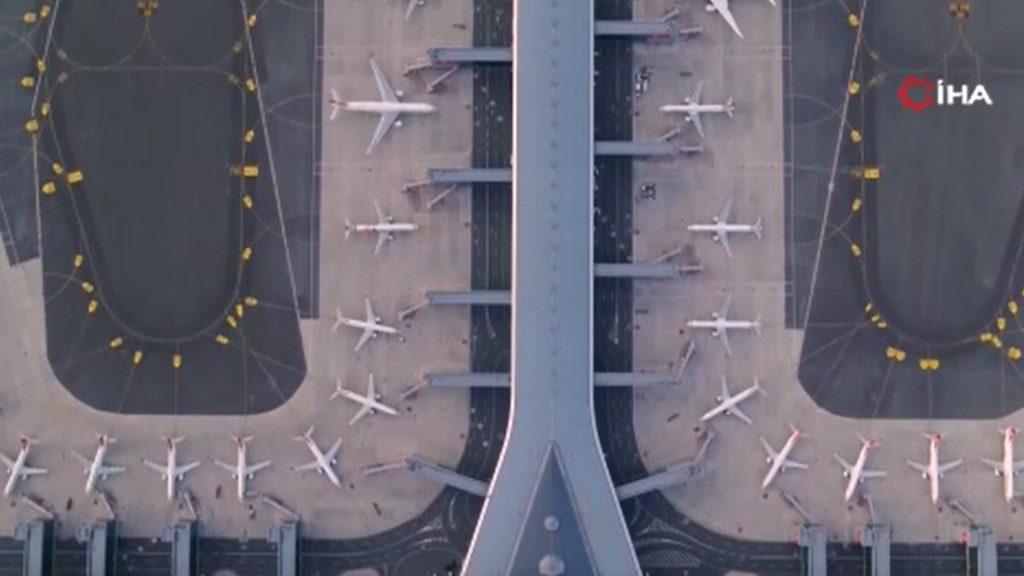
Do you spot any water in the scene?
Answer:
No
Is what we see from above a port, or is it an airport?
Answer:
airport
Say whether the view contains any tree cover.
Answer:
No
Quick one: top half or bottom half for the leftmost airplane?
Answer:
bottom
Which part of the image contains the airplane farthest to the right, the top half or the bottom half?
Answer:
bottom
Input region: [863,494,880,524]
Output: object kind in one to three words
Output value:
jet bridge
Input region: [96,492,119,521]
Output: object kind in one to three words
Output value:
jet bridge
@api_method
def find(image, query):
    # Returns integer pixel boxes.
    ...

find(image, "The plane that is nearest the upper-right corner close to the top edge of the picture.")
[708,0,746,35]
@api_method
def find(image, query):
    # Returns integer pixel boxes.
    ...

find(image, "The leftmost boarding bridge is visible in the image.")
[18,495,60,521]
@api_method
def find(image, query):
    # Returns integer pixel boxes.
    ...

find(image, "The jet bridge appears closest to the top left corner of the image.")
[402,61,435,77]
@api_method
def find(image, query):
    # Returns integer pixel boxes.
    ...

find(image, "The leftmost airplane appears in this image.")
[0,435,42,497]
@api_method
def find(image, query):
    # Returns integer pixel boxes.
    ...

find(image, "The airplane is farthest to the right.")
[980,428,1024,504]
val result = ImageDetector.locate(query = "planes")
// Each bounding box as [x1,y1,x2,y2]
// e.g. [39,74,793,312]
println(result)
[142,437,196,503]
[980,428,1024,504]
[345,199,418,257]
[73,433,122,495]
[407,0,424,15]
[329,55,435,151]
[214,436,268,503]
[907,433,965,504]
[687,198,763,258]
[333,299,399,352]
[700,374,769,426]
[837,436,889,501]
[0,435,42,497]
[686,294,762,355]
[761,425,812,489]
[659,76,736,137]
[708,0,746,35]
[329,371,399,426]
[294,427,342,487]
